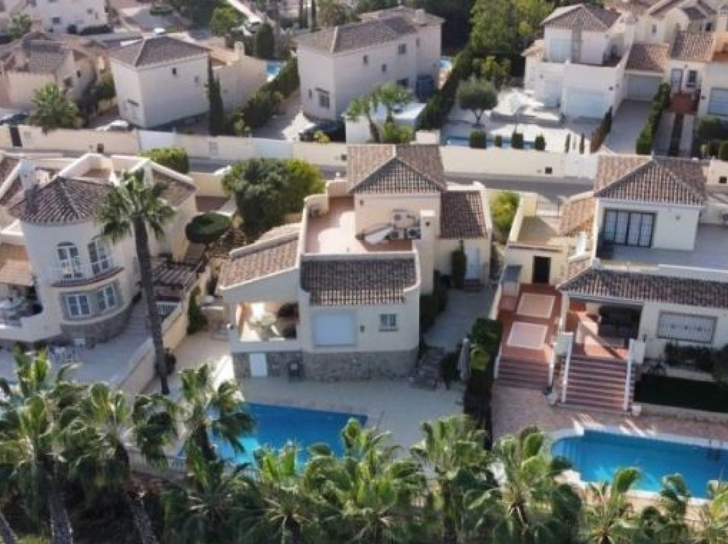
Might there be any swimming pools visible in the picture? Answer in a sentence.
Yes, this view includes a swimming pool.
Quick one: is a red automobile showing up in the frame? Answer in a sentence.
No, the photo shows no red automobile.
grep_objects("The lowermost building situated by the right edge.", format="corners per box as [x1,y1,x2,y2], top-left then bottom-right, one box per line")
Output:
[509,154,728,354]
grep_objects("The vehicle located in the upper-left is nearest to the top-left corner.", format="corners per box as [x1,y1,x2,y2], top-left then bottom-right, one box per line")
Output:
[0,110,36,127]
